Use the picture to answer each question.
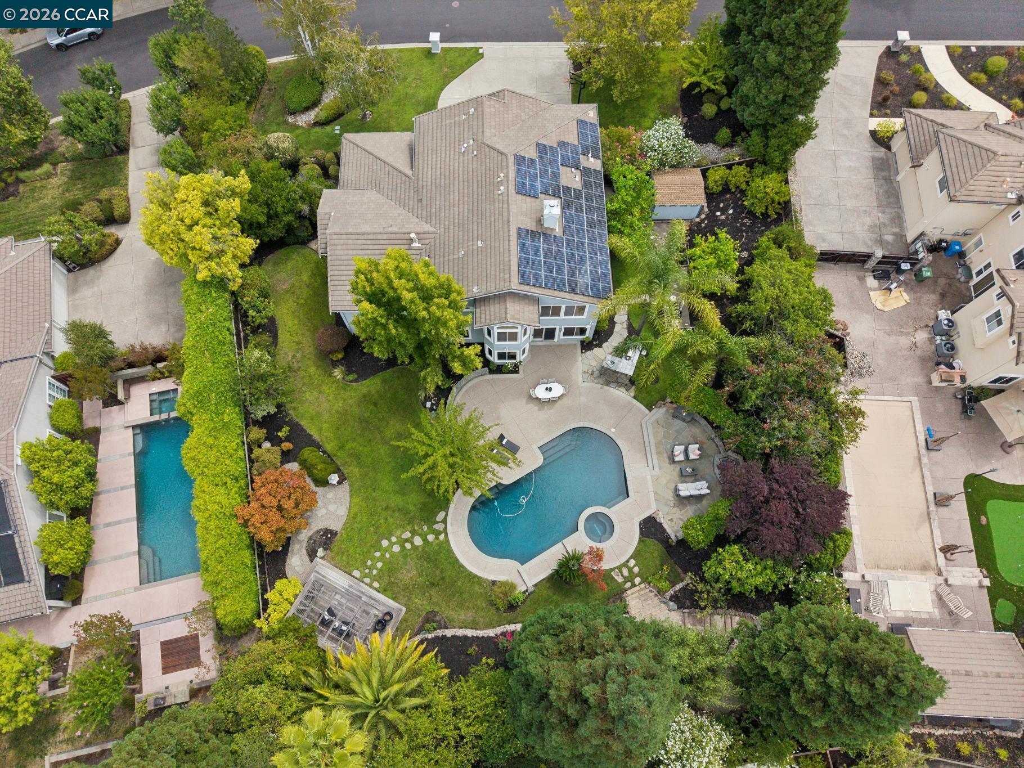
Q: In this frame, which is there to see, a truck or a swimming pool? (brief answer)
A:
swimming pool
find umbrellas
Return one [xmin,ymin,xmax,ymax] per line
[932,491,967,505]
[980,372,1024,454]
[926,432,960,449]
[938,542,970,562]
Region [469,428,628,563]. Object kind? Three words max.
swimming pool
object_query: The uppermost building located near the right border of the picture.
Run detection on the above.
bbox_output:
[889,108,1024,388]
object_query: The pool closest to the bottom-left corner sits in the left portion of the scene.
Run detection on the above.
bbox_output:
[133,415,203,584]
